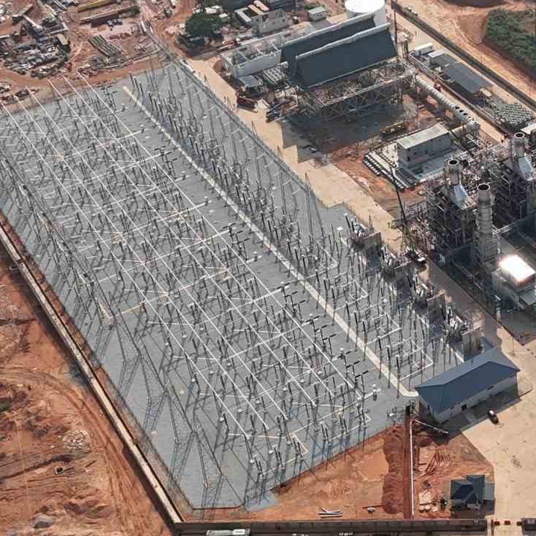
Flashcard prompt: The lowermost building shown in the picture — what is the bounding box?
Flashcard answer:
[447,478,485,515]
